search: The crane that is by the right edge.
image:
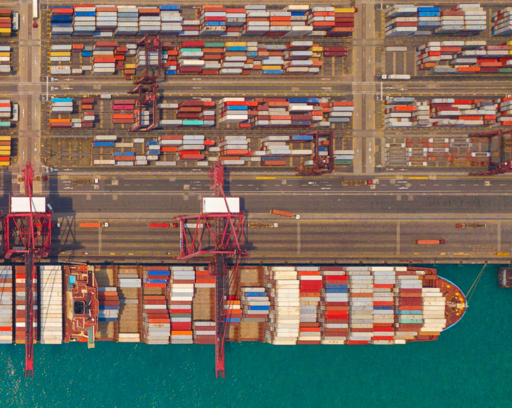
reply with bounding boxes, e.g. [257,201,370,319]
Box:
[471,130,512,176]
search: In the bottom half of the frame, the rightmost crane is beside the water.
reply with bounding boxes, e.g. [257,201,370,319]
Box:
[170,160,244,379]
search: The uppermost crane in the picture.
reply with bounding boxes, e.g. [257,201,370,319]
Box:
[133,33,163,83]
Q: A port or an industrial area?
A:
port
